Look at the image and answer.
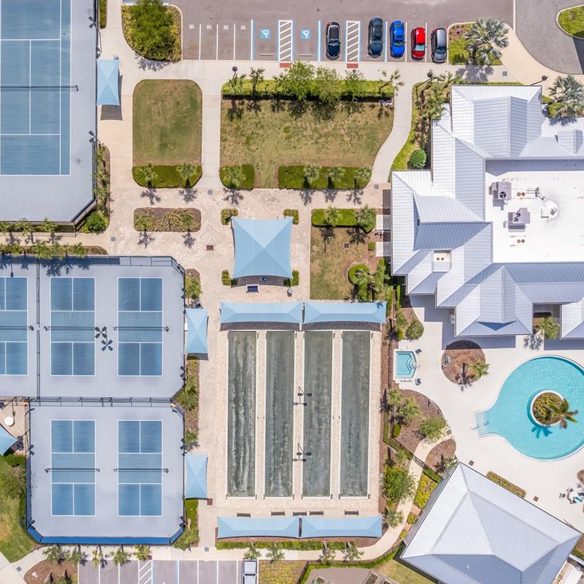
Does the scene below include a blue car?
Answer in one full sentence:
Yes, looking at the shot, I can spot a blue car.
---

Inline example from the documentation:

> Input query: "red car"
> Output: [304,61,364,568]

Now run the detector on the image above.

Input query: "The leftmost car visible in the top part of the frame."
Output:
[325,21,342,60]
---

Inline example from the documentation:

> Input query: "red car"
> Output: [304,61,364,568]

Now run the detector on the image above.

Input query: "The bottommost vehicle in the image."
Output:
[241,560,257,584]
